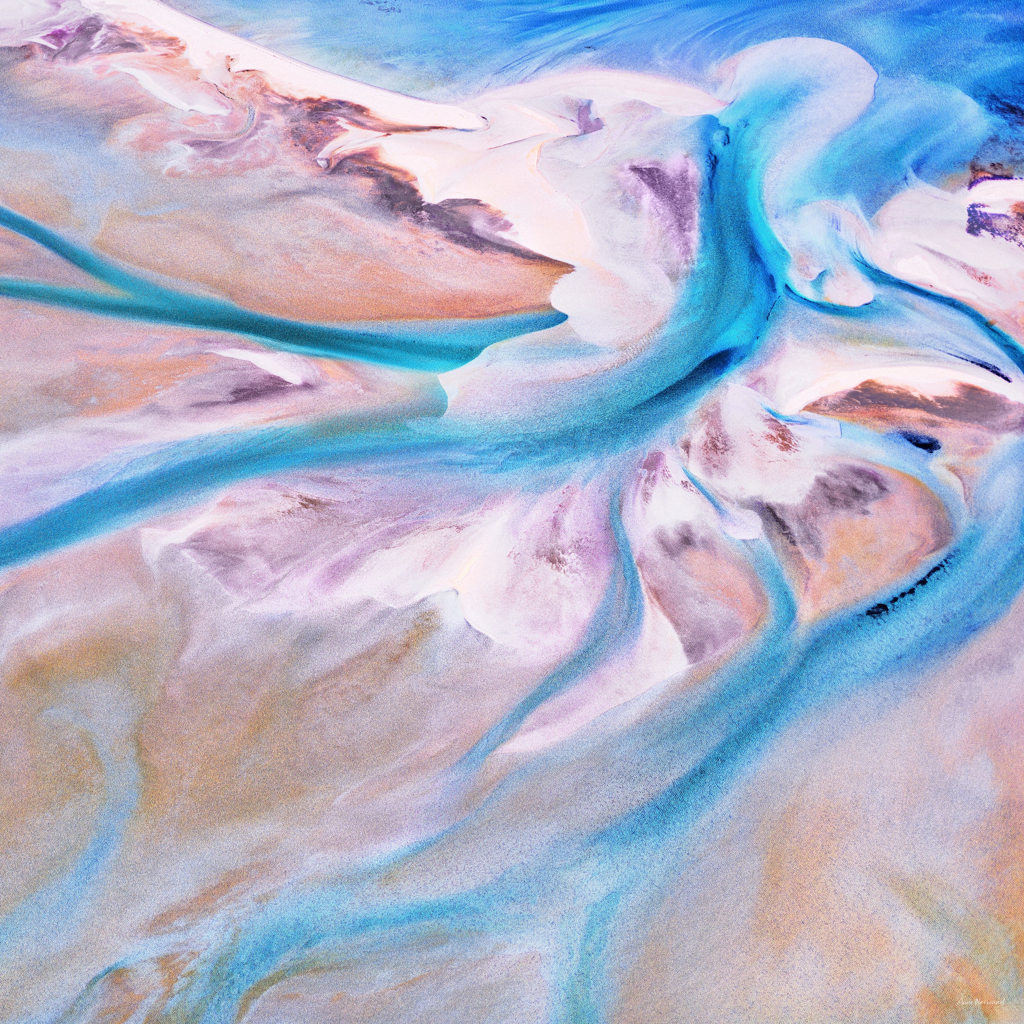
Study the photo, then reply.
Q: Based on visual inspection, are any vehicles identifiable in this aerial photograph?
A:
No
